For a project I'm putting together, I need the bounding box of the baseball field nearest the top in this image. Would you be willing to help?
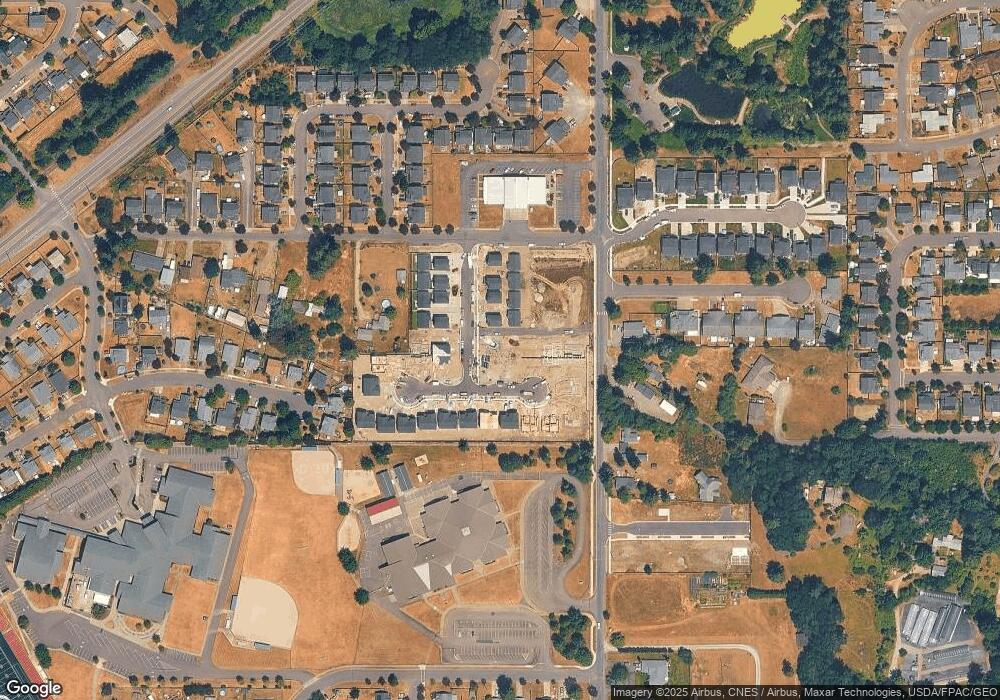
[292,445,343,496]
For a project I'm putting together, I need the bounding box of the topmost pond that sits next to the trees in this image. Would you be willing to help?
[728,0,801,48]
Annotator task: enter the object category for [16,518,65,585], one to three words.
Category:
building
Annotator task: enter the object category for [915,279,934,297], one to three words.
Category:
house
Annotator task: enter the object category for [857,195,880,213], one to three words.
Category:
house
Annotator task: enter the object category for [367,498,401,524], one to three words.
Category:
shed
